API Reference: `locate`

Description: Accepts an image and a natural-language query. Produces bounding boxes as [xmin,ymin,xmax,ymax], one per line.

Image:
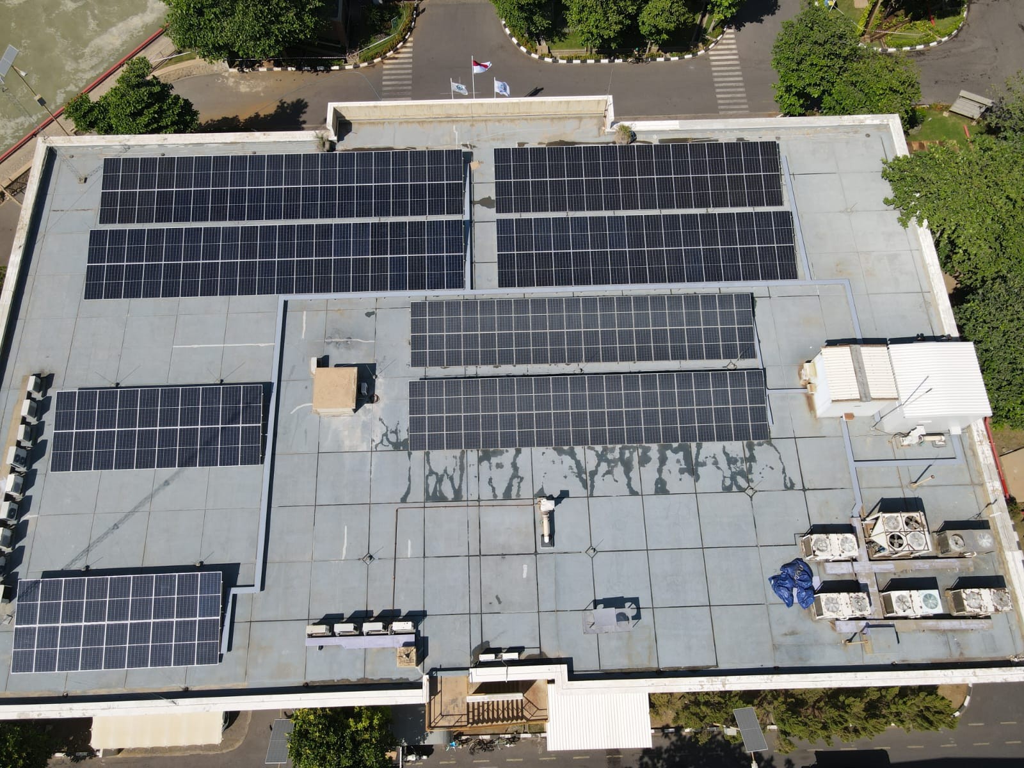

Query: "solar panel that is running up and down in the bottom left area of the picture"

[265,719,294,763]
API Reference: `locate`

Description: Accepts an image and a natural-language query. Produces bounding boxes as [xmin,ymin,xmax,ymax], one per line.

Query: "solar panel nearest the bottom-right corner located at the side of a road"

[733,706,768,752]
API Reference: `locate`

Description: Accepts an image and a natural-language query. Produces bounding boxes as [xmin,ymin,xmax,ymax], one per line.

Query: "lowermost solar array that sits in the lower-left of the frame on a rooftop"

[11,572,229,673]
